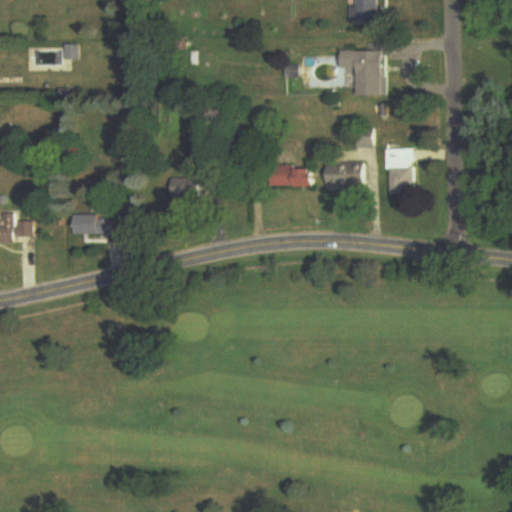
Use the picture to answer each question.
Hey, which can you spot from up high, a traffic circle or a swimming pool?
swimming pool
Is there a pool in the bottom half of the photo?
No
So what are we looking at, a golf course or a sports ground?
golf course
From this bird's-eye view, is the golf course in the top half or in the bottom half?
bottom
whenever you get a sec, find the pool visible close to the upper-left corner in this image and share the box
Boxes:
[28,48,72,71]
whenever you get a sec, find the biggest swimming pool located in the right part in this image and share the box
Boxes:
[304,56,345,88]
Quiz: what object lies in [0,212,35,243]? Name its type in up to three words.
house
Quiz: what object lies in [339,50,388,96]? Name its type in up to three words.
house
